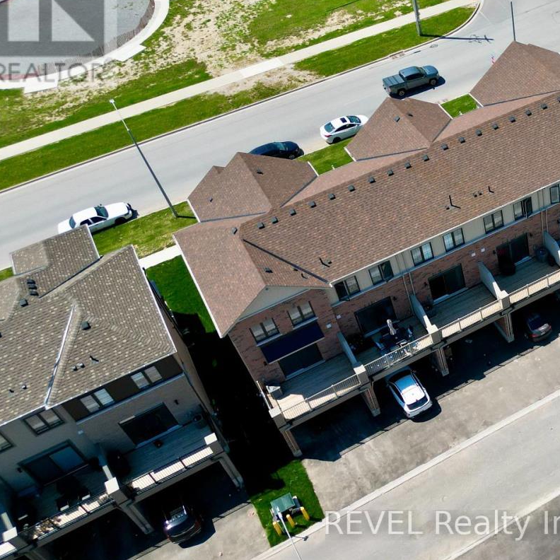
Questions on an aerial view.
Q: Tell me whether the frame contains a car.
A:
Yes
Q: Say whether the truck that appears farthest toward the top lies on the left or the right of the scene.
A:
right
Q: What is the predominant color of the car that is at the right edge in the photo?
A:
black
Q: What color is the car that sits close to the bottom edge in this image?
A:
black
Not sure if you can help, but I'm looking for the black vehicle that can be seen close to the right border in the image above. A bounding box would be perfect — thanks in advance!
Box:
[513,302,554,341]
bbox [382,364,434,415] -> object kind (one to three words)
car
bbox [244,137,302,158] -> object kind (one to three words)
car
